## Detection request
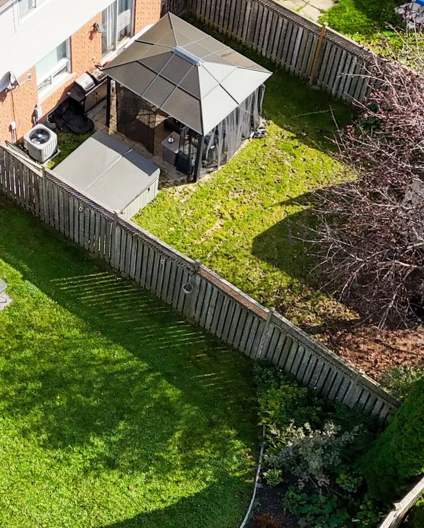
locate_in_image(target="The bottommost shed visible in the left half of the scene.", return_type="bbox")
[53,130,164,234]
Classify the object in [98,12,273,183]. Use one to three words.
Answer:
gazebo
